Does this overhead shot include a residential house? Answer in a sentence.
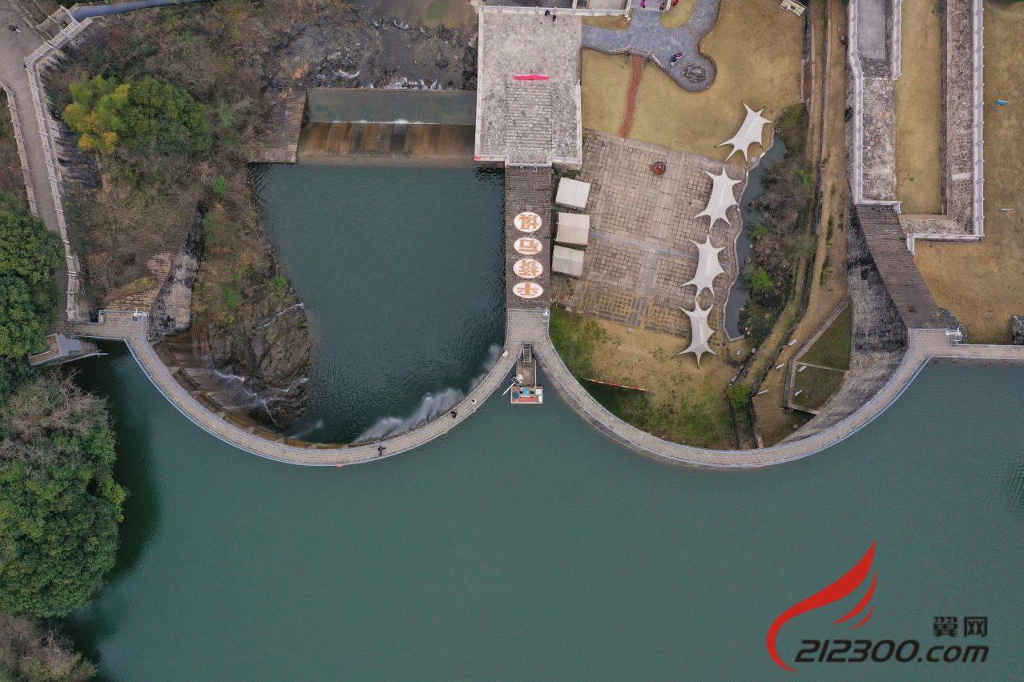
No, there isn't any residential house down there.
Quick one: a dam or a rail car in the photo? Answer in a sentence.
This aerial view contains a dam.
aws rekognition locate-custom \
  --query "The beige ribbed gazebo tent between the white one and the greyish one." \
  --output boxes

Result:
[556,212,590,246]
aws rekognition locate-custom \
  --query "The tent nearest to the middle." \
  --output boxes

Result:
[552,245,584,278]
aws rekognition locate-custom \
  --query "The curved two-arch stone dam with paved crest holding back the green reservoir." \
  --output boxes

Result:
[66,166,1024,469]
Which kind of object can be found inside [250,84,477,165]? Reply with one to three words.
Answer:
dam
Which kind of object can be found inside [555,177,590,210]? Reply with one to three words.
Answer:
tent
